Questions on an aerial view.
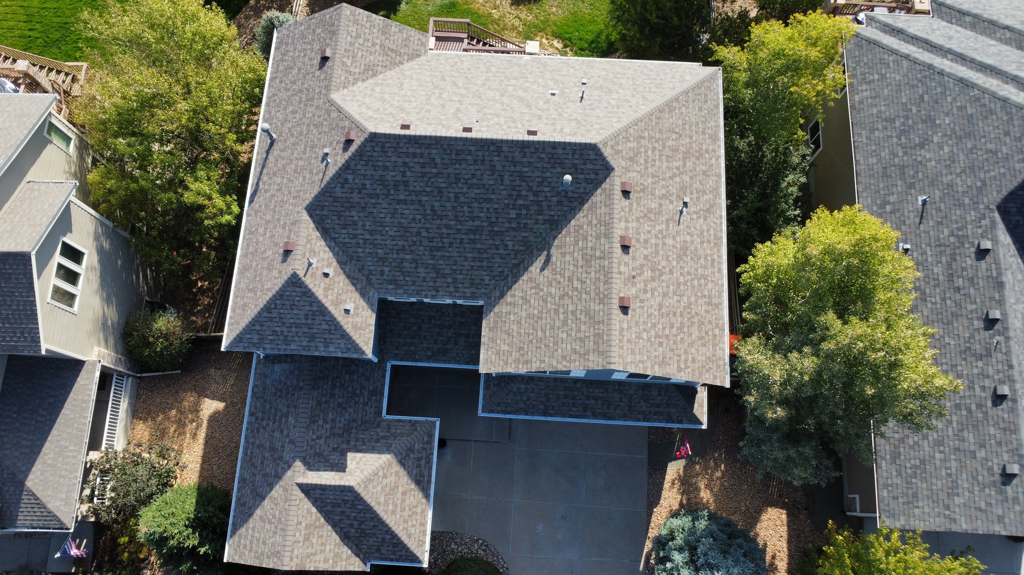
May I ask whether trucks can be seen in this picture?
No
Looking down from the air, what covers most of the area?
buildings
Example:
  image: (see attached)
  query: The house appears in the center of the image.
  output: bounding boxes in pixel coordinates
[219,3,732,572]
